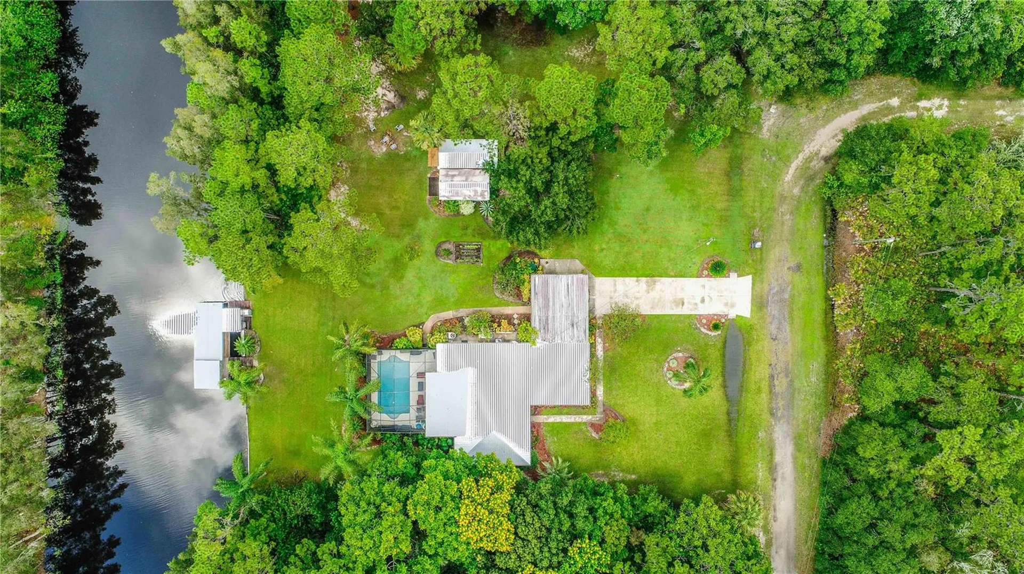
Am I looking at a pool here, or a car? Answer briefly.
pool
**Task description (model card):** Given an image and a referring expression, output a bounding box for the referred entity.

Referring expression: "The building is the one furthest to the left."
[194,301,247,389]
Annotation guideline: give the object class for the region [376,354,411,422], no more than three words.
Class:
swimming pool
